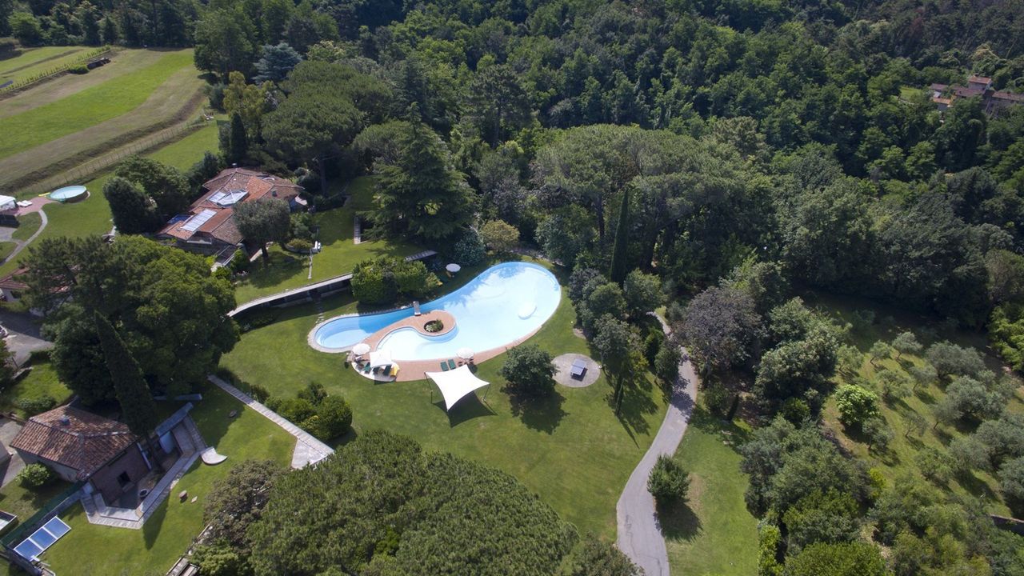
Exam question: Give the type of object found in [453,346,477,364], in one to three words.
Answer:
umbrella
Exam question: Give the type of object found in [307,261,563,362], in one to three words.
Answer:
swimming pool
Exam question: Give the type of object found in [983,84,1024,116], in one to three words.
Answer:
house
